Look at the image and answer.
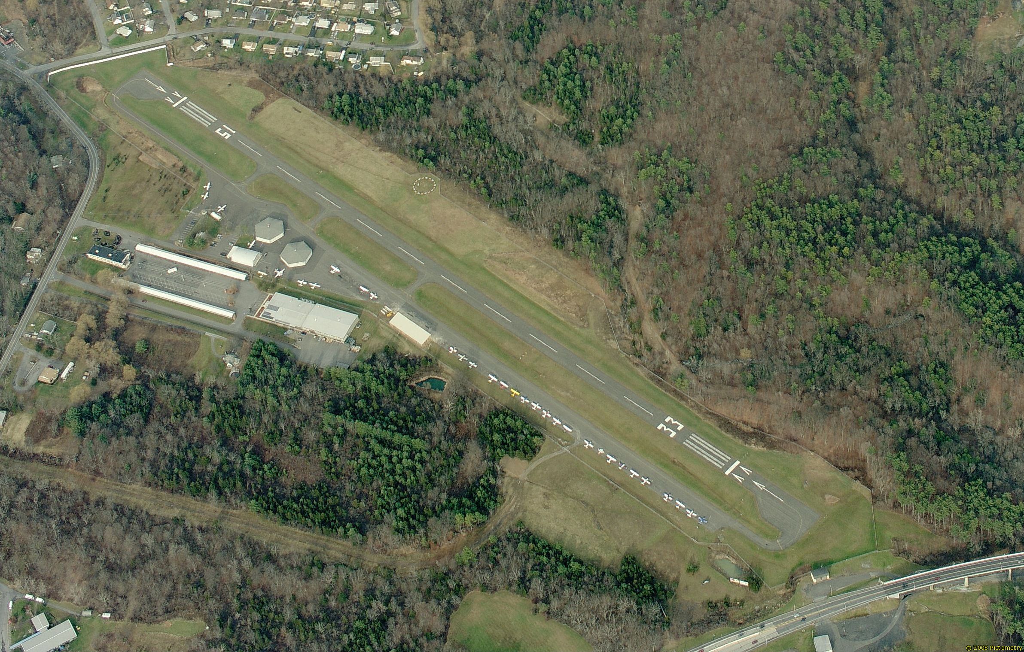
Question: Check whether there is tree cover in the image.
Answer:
Yes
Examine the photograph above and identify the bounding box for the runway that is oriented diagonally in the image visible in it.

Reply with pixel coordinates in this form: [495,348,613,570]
[136,68,822,525]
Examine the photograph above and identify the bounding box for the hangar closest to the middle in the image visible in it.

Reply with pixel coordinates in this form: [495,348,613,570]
[389,312,431,347]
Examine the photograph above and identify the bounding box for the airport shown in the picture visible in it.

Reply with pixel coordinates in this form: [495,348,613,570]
[110,68,822,550]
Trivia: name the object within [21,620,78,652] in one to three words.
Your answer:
building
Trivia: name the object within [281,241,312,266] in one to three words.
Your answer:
hangar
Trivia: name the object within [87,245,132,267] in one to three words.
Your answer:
building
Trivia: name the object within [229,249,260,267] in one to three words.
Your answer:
hangar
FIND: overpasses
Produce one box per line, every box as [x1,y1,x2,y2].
[881,552,1024,599]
